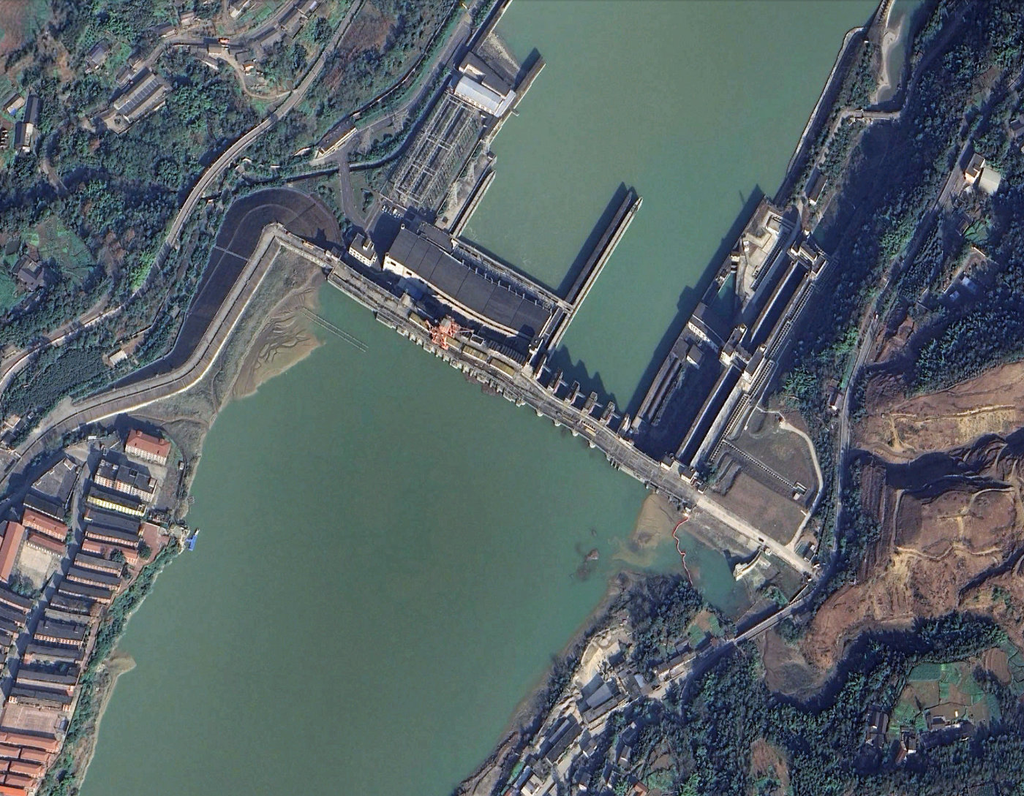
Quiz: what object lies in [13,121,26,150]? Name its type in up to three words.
barn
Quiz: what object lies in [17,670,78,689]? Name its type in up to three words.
building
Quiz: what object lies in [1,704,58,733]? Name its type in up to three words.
sports court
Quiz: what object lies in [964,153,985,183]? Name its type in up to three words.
house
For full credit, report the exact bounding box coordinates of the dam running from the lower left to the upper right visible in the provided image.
[0,188,344,497]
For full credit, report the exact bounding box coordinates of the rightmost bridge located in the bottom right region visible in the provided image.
[727,591,813,647]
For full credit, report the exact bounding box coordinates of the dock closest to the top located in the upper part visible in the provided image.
[510,56,546,117]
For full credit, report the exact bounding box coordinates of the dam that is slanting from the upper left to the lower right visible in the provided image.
[326,250,720,517]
